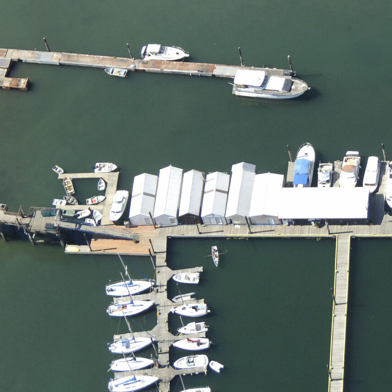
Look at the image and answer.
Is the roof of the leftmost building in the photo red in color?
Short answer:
No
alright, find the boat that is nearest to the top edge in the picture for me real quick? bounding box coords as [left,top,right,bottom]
[142,42,189,60]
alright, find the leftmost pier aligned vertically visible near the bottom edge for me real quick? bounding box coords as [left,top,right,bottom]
[156,237,170,392]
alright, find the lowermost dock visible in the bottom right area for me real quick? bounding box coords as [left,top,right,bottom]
[328,236,350,392]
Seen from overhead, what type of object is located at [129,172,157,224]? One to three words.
building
